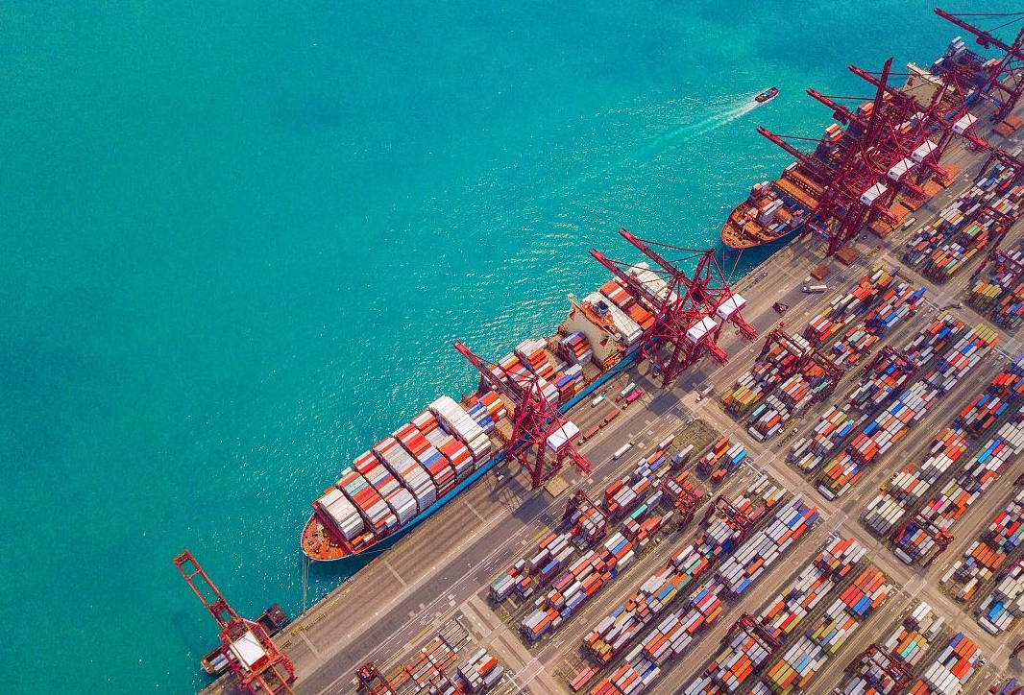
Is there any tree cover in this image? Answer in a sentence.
No, there is no tree cover in the image.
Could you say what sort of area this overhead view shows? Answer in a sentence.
What you see here is a port.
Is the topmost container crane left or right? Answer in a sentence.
The topmost container crane sits on the right side.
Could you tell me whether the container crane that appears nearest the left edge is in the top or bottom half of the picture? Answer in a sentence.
You can find the container crane that appears nearest the left edge in the bottom half.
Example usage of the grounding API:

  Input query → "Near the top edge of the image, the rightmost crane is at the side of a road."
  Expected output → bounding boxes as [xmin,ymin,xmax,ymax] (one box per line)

[937,13,1024,113]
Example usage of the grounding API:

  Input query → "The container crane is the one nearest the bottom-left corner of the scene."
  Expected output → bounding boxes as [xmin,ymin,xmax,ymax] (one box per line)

[166,551,299,695]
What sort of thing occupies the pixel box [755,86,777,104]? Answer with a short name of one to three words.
boat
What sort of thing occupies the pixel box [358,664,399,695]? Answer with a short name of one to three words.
crane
